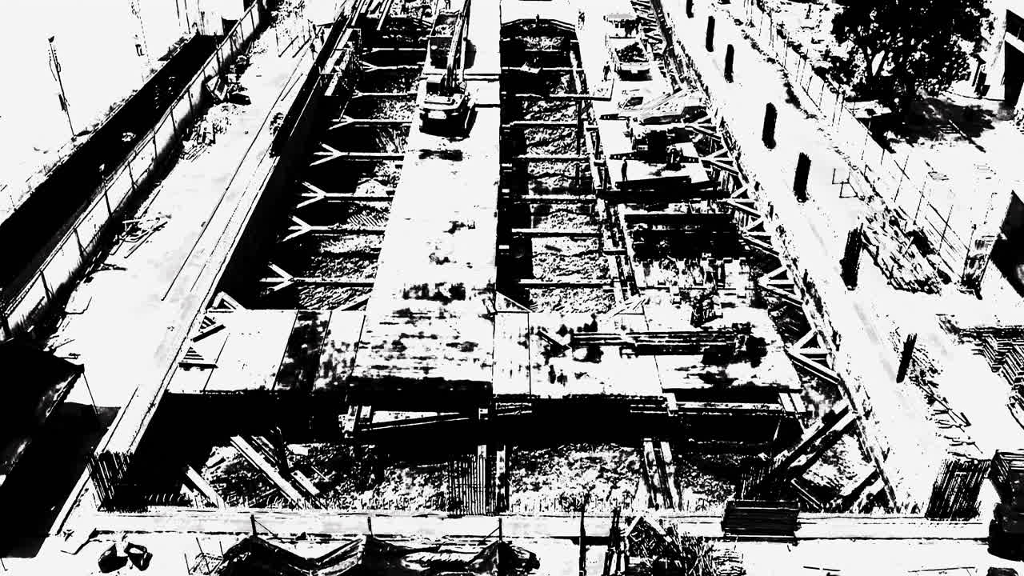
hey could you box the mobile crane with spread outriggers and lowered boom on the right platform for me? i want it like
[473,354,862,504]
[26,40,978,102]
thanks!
[611,61,715,153]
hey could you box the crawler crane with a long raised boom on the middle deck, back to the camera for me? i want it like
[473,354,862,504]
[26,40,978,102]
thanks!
[417,0,482,126]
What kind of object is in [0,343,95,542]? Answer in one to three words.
shed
